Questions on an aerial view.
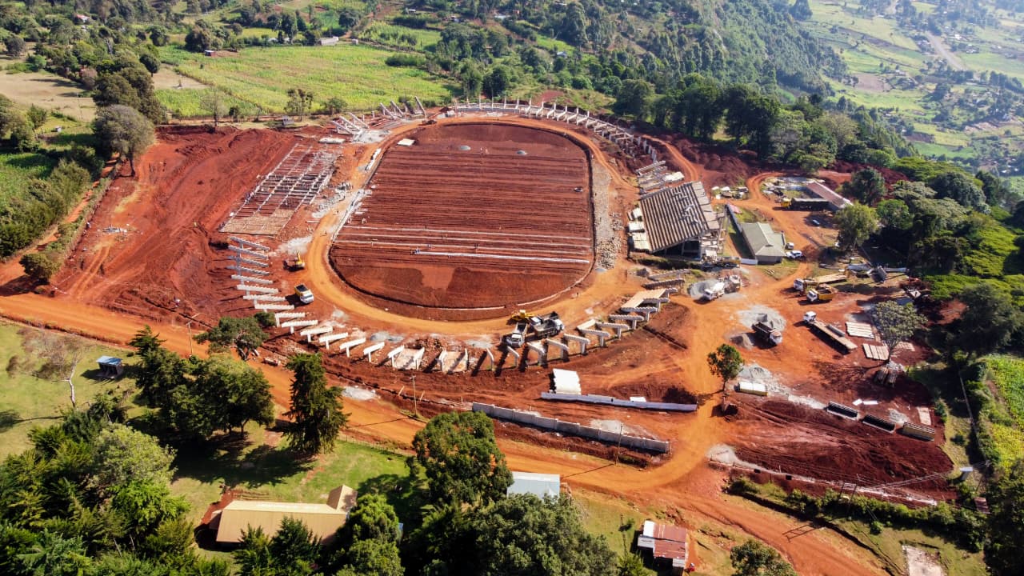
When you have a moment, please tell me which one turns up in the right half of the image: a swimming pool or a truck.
truck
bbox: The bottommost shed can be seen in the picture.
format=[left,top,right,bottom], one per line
[637,521,688,574]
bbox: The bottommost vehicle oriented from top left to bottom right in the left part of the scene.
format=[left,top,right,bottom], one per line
[290,279,313,301]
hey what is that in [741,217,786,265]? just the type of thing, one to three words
house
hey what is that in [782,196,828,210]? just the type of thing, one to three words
vehicle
